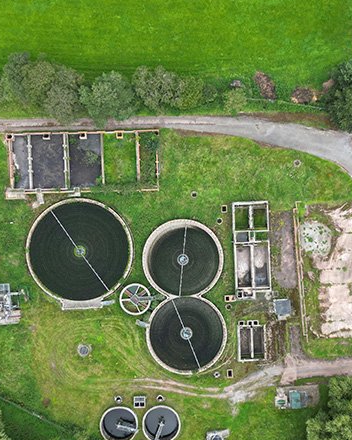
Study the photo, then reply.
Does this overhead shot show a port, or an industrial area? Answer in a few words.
industrial area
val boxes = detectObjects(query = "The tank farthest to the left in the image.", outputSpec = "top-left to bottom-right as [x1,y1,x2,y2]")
[100,405,139,440]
